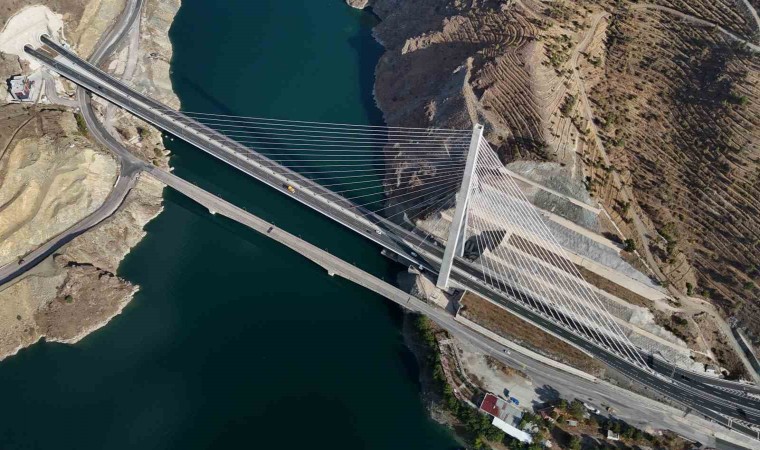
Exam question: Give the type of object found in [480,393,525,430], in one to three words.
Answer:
building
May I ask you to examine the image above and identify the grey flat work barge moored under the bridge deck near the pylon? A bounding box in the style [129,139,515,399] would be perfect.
[379,247,401,264]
